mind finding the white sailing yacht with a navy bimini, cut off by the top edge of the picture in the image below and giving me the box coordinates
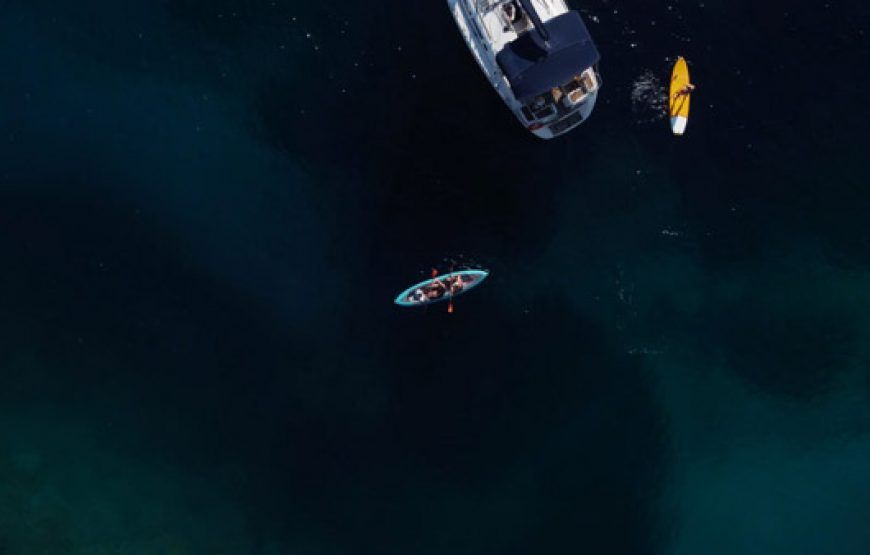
[443,0,603,143]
